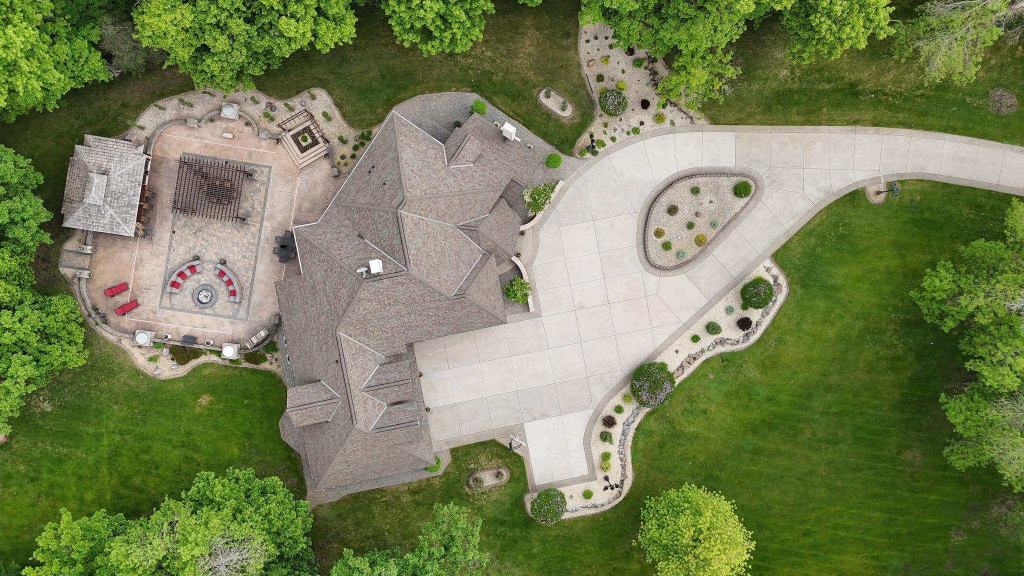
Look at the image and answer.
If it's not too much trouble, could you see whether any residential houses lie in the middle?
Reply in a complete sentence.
Yes, a residential house shows up in the middle.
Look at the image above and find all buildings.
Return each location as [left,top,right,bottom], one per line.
[275,110,542,492]
[61,134,146,237]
